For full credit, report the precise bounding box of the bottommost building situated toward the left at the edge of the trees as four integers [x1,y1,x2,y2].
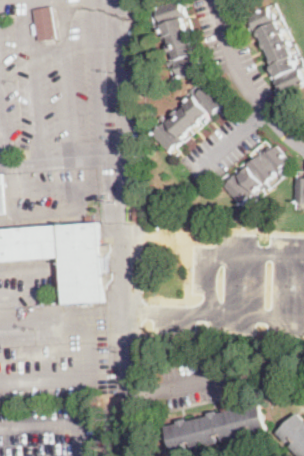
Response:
[0,224,112,306]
